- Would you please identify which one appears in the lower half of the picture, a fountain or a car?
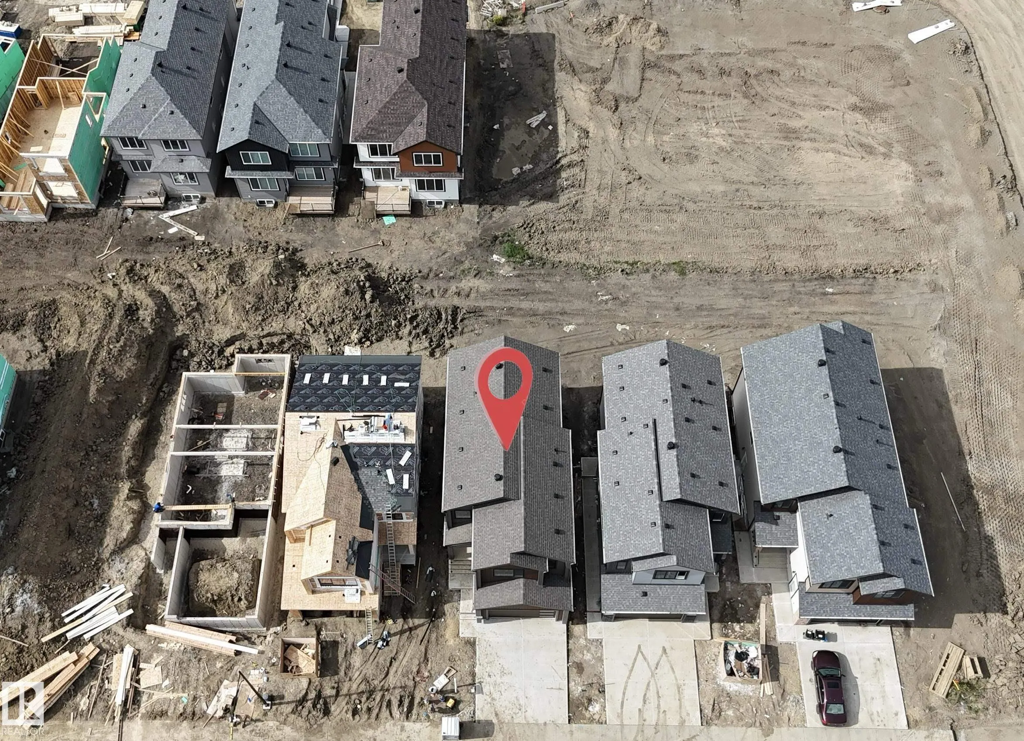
car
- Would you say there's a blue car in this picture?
No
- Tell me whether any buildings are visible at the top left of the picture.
Yes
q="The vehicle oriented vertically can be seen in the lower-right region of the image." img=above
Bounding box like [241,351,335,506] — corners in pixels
[815,649,853,726]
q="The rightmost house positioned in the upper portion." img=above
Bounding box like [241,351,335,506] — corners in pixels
[350,0,468,210]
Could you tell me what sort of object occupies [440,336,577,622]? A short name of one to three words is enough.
house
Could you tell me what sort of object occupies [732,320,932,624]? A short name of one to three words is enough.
house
